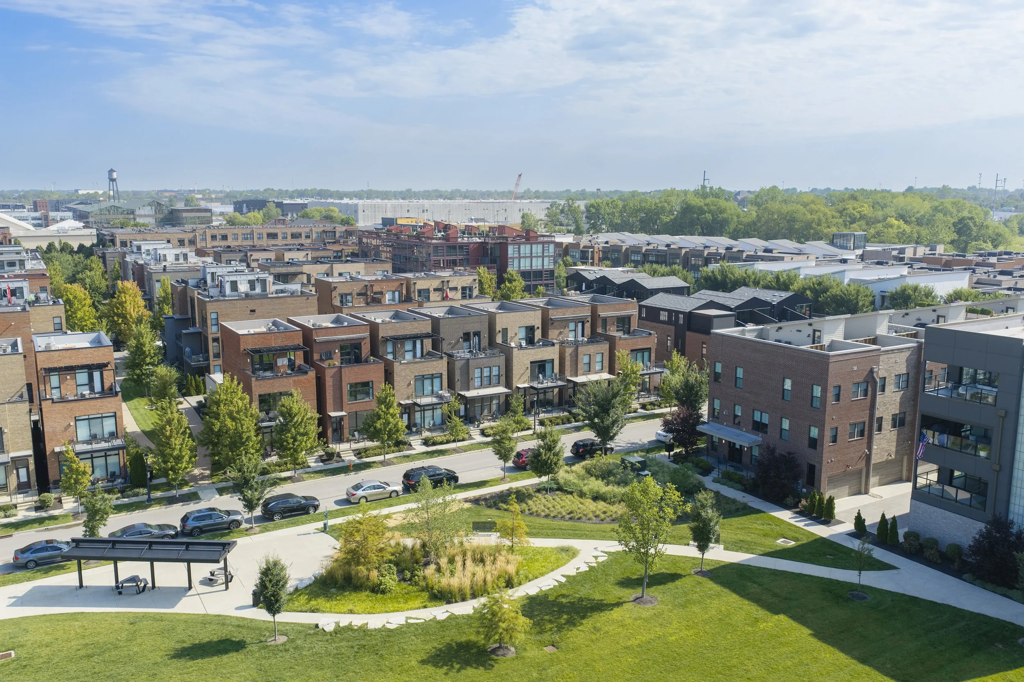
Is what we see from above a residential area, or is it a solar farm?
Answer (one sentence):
The area seen from above is a residential area.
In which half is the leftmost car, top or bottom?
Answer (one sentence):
It is in the bottom half that the leftmost car appears.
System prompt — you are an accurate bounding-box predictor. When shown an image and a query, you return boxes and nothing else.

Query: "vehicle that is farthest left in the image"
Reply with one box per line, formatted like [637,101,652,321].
[13,538,76,569]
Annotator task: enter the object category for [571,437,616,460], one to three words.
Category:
car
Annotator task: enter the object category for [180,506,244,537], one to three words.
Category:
car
